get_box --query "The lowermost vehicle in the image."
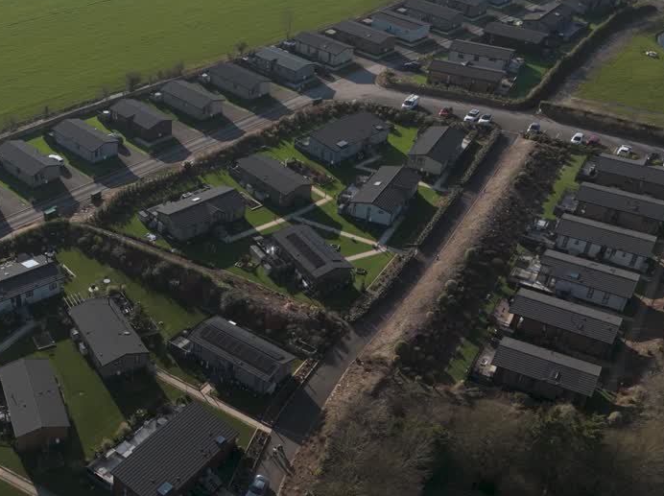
[245,473,270,496]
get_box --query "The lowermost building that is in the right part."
[458,337,600,407]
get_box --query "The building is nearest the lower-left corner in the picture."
[0,358,71,449]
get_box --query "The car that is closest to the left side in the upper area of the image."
[49,152,67,167]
